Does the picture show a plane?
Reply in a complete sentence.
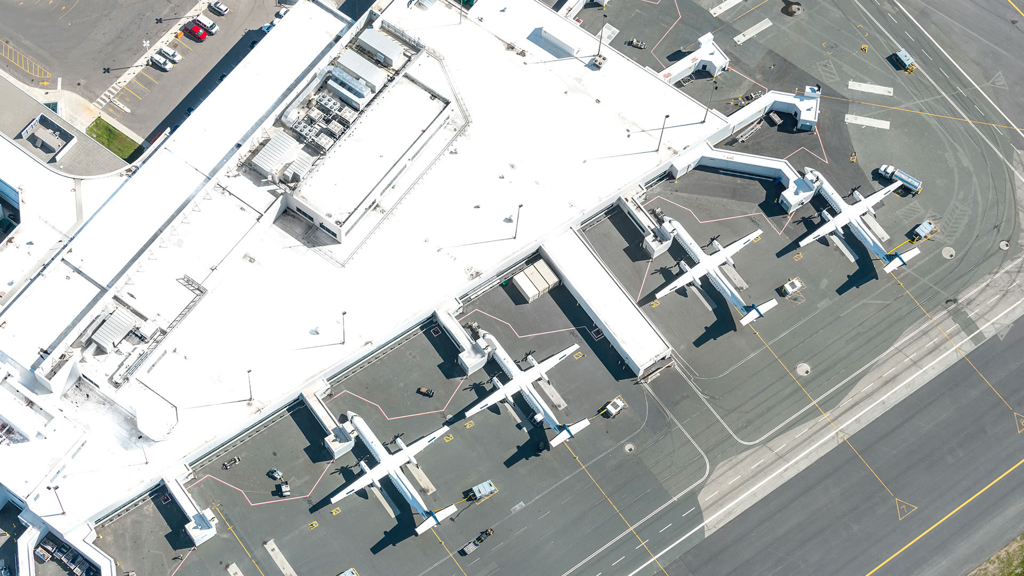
Yes, you can see a plane in this photo.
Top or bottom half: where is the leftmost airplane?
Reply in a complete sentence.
Seen from above, the leftmost airplane lies in the bottom half of the view.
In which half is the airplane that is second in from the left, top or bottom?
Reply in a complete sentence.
It is in the bottom half that the airplane that is second in from the left appears.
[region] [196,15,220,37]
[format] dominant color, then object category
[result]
white car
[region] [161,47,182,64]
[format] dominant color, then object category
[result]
white car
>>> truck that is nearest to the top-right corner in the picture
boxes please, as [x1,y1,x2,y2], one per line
[893,49,917,74]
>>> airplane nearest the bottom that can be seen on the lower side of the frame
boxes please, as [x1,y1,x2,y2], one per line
[329,411,458,535]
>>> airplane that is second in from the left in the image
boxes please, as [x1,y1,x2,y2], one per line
[464,329,590,447]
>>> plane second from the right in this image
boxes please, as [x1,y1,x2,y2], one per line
[655,216,778,326]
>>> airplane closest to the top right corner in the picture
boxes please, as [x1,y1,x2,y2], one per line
[799,167,920,273]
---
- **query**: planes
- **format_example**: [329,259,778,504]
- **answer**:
[655,216,778,326]
[329,411,458,535]
[464,329,590,447]
[799,167,920,273]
